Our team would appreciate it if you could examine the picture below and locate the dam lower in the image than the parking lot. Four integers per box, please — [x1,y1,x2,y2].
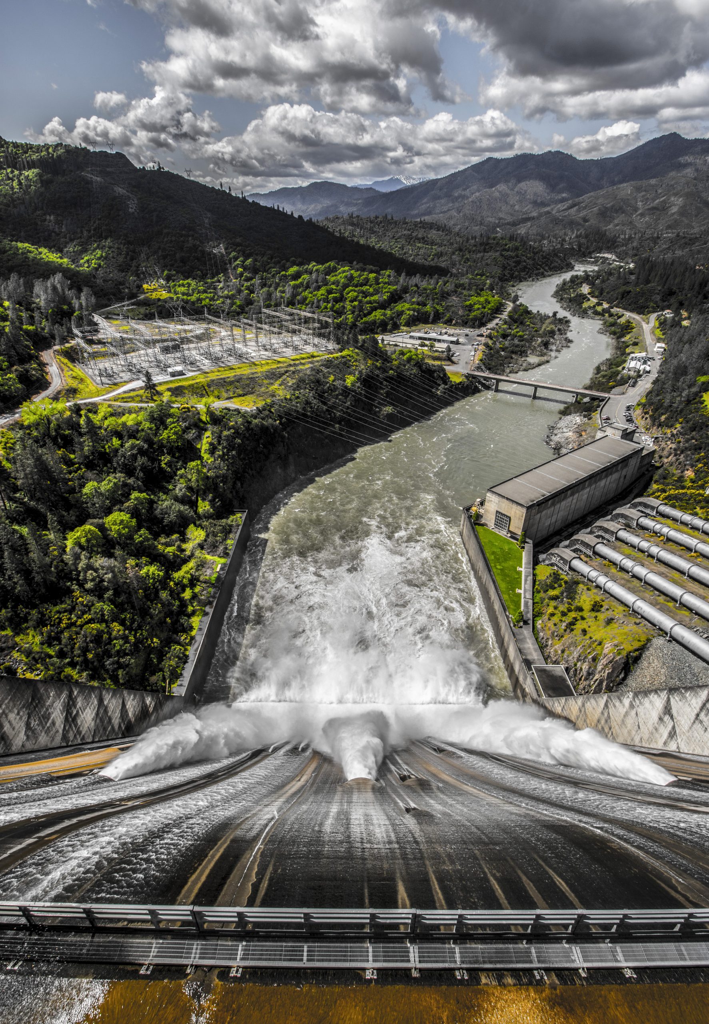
[0,683,709,1024]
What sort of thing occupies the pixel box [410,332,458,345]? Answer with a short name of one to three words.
shed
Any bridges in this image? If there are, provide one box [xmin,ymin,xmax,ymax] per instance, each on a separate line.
[466,369,610,398]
